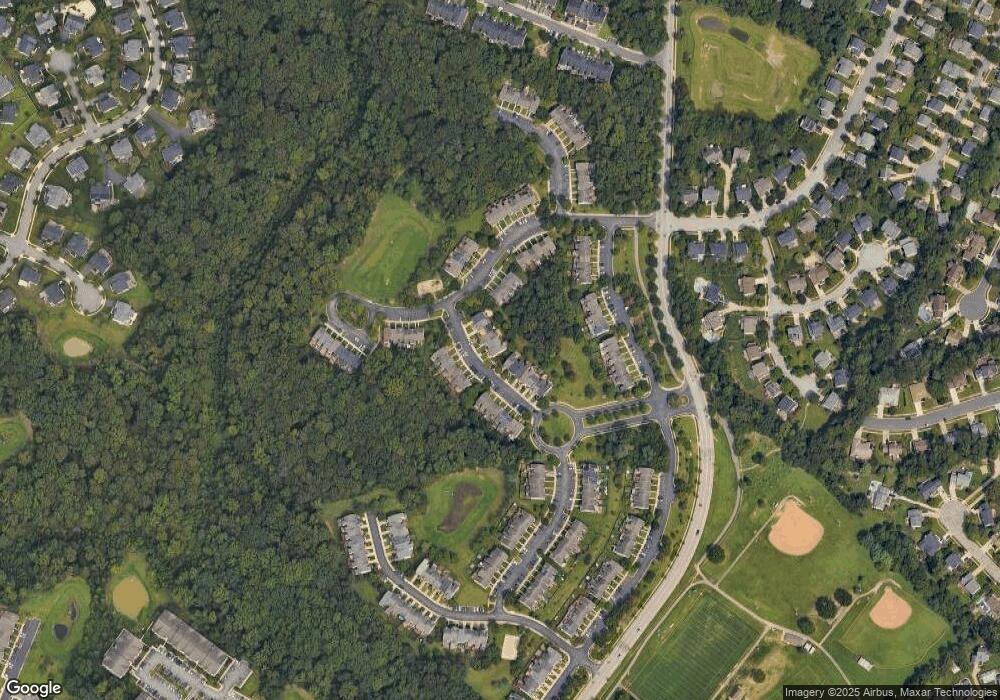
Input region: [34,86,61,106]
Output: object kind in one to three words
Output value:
house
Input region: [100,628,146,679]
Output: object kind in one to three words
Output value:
building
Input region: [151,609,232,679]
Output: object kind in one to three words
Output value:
building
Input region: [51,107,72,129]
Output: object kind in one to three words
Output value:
house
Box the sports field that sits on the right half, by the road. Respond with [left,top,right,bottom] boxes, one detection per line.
[610,587,765,700]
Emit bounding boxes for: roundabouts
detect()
[531,404,582,453]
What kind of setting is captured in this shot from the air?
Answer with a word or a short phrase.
residential area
